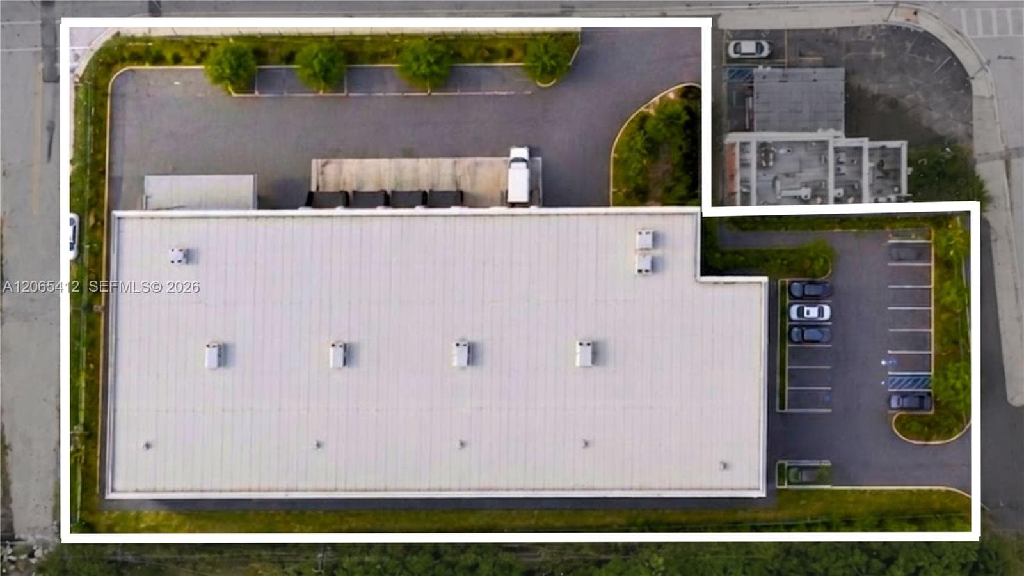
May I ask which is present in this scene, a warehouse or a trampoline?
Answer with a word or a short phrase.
warehouse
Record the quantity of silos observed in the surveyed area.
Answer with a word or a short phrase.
none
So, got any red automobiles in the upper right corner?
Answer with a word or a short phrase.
No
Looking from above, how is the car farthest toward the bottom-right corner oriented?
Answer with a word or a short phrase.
horizontally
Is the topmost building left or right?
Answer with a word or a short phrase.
right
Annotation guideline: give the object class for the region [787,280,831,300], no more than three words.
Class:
car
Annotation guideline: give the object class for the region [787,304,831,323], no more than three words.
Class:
car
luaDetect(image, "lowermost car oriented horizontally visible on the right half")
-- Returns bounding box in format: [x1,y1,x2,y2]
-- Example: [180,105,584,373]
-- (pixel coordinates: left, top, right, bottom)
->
[787,466,826,485]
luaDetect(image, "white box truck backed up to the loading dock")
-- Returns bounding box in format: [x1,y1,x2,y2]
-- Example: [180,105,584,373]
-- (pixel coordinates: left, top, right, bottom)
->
[507,147,530,208]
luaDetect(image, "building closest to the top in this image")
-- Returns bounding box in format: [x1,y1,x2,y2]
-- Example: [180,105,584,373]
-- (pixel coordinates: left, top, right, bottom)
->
[744,68,846,139]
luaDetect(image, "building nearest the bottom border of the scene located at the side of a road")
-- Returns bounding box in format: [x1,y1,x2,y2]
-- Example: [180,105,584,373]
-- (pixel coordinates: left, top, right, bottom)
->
[106,206,768,500]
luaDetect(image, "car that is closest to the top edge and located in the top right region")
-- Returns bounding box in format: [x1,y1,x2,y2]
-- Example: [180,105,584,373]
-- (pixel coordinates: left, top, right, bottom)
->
[727,38,769,59]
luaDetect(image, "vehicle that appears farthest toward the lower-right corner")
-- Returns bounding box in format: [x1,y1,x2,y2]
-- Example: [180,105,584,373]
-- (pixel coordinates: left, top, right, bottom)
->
[886,393,931,413]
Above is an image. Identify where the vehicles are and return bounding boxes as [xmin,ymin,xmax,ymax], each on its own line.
[787,304,831,323]
[886,393,931,413]
[507,147,530,208]
[59,214,82,258]
[788,326,830,345]
[787,466,826,485]
[886,243,927,262]
[727,38,769,59]
[787,280,831,300]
